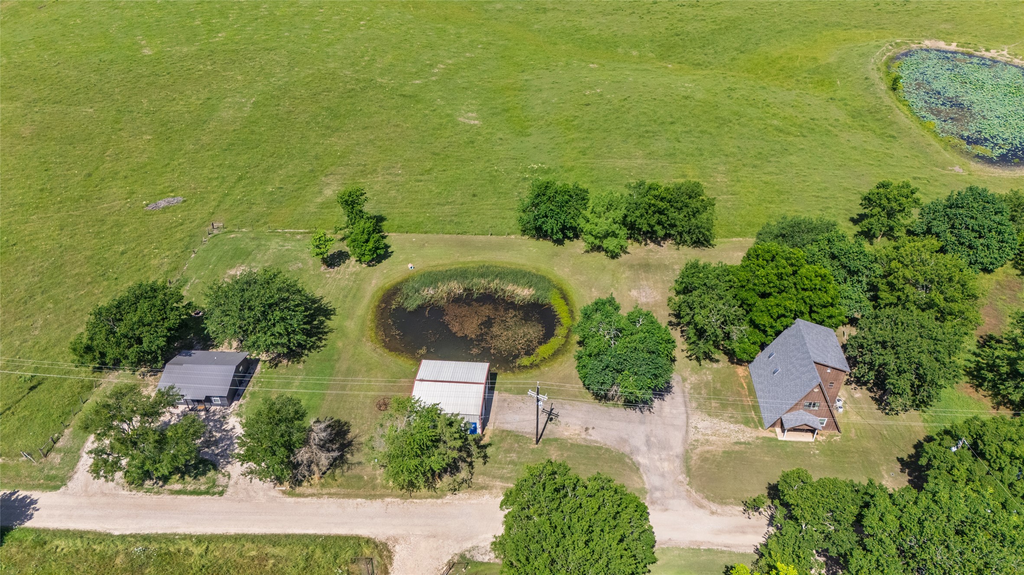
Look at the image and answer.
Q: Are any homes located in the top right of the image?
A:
No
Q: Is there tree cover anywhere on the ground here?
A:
Yes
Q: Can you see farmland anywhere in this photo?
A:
Yes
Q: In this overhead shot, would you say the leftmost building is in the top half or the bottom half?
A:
bottom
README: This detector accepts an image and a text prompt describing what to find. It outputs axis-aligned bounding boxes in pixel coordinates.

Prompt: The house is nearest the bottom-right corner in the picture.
[747,319,852,442]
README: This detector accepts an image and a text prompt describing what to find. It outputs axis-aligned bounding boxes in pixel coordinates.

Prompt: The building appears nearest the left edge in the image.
[156,352,249,412]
